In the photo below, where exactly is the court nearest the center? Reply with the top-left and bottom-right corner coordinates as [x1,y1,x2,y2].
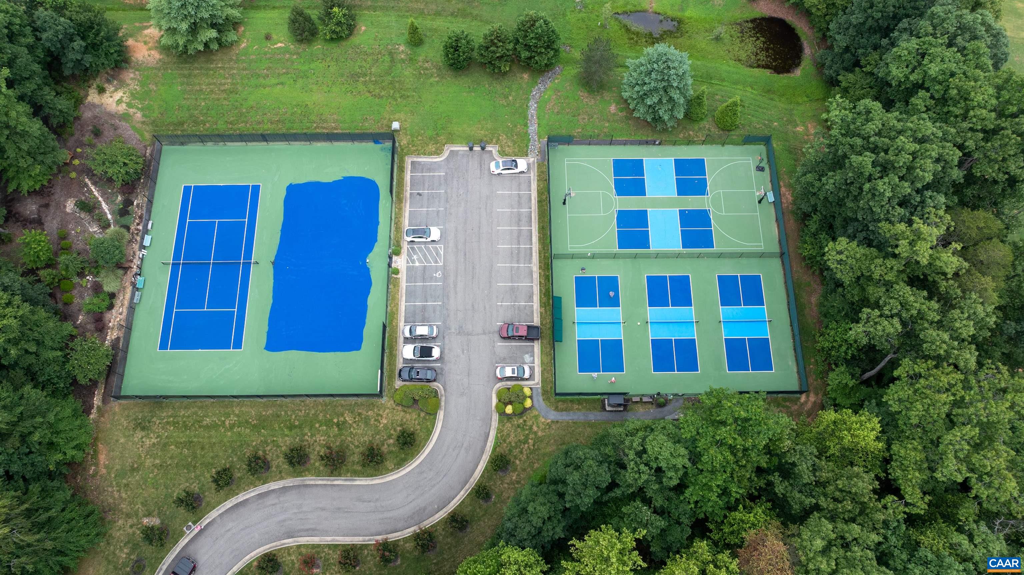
[574,275,625,374]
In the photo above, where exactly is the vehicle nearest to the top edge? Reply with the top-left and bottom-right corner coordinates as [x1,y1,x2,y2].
[491,159,527,177]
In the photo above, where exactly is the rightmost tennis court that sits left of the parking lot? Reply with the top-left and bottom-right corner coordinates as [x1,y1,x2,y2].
[264,176,379,353]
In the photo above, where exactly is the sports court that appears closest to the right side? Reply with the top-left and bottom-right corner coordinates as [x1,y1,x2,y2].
[716,274,775,372]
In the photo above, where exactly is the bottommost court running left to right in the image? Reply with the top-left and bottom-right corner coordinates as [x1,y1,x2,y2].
[615,208,715,250]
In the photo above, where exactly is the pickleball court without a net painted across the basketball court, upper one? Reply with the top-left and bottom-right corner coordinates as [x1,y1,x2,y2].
[612,157,710,197]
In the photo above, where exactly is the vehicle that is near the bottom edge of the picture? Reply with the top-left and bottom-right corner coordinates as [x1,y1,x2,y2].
[168,554,199,575]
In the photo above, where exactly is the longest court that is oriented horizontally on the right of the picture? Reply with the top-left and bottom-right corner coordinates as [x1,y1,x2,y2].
[565,157,764,250]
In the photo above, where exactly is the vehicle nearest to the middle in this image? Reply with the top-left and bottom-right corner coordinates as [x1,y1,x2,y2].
[498,322,542,342]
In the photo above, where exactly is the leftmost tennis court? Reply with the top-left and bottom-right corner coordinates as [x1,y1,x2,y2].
[157,184,261,351]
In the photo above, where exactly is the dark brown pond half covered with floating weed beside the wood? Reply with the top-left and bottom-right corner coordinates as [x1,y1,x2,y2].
[731,17,802,75]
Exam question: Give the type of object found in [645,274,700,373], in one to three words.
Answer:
sports court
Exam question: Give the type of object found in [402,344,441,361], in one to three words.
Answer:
car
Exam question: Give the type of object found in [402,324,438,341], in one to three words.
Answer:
car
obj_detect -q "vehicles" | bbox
[402,324,438,341]
[495,365,532,381]
[491,159,527,177]
[168,554,199,575]
[402,344,441,361]
[498,322,542,342]
[398,365,437,382]
[404,227,440,244]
